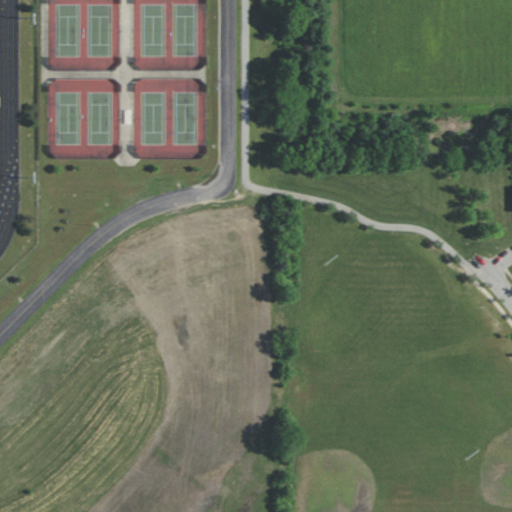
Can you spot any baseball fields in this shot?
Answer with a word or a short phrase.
Yes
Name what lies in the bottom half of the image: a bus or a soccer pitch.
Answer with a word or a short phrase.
soccer pitch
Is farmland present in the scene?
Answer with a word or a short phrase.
Yes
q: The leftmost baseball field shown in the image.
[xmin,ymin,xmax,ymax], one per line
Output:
[296,449,375,512]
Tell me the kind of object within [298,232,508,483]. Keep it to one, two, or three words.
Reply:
soccer field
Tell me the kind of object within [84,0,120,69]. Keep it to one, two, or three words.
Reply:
tennis court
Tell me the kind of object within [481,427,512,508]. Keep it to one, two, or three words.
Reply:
baseball field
